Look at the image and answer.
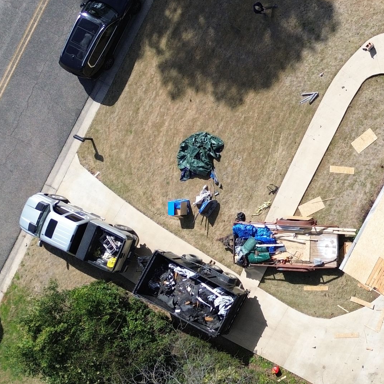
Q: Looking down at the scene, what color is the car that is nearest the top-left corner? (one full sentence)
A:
From above, the car that is nearest the top-left corner appears black.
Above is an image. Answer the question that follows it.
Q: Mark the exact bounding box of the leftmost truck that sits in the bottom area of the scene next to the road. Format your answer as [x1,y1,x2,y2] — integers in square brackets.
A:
[15,193,139,274]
